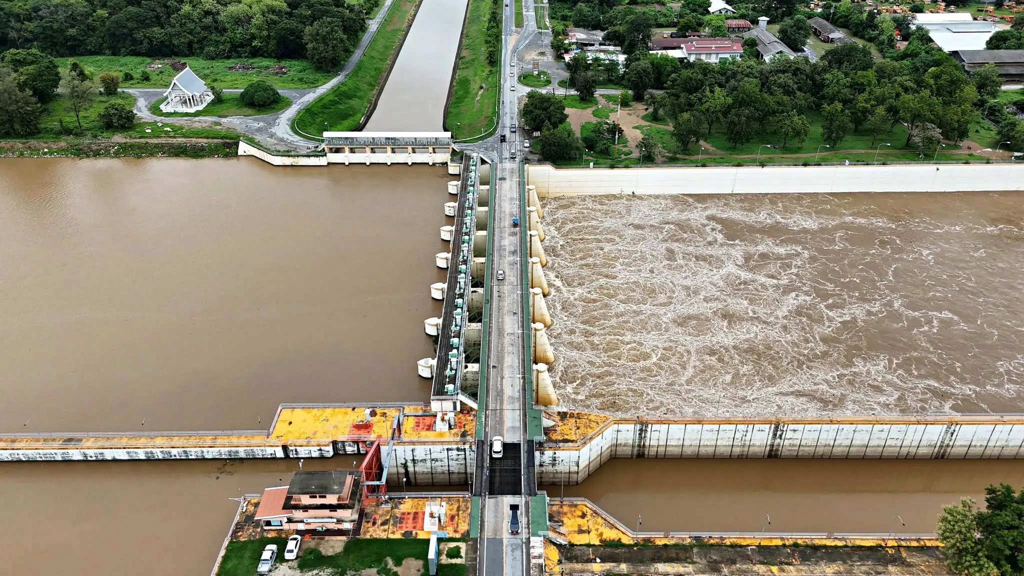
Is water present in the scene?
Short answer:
Yes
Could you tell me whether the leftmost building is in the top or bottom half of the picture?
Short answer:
top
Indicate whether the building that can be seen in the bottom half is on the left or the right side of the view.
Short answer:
left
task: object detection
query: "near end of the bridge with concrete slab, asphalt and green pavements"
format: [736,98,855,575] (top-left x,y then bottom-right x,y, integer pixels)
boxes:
[458,490,549,576]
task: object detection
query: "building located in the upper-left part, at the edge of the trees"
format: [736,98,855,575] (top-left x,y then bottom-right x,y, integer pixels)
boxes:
[159,63,213,116]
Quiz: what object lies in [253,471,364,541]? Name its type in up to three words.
building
